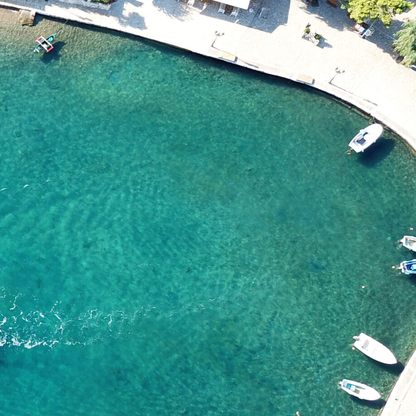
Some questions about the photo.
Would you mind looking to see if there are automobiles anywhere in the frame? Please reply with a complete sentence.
No, I can't see a single automobile in this photo.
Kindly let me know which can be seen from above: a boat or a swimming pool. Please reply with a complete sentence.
There is a boat in the scene.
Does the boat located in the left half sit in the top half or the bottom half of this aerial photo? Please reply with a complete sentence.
The boat located in the left half sits in the top half of the picture.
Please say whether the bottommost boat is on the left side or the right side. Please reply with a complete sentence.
The bottommost boat sits on the right side.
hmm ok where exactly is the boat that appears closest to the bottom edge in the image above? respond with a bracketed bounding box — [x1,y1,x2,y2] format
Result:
[335,378,382,399]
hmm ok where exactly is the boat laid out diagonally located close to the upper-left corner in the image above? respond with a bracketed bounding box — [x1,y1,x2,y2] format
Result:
[34,22,65,53]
